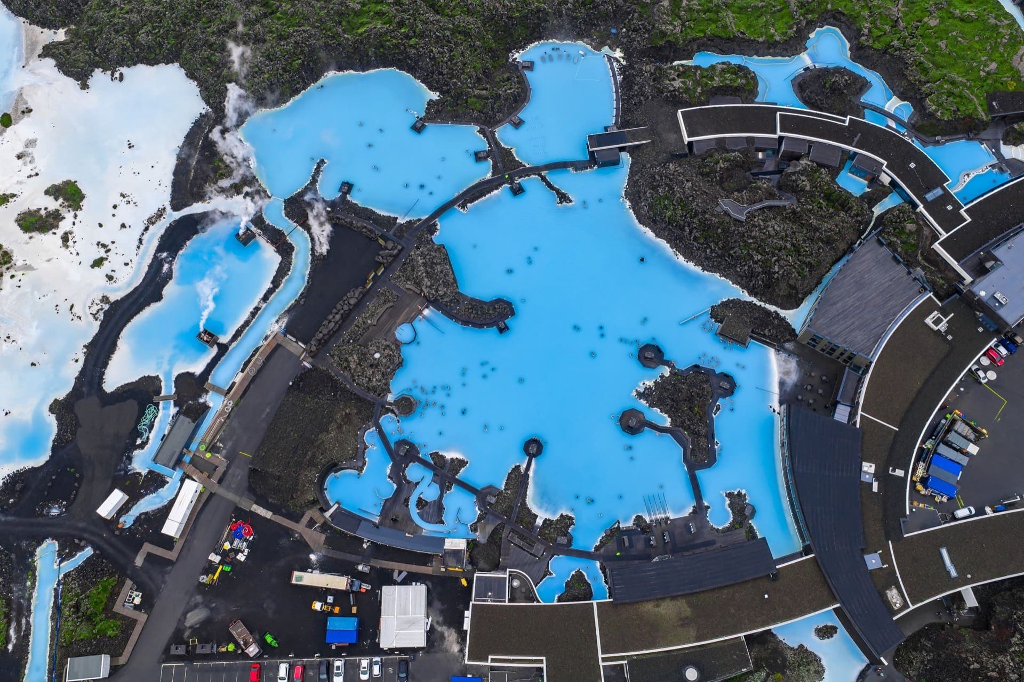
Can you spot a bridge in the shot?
Yes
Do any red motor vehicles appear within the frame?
Yes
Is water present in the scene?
Yes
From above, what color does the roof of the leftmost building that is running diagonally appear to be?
white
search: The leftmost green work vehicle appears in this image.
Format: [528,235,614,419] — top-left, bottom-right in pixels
[264,632,279,649]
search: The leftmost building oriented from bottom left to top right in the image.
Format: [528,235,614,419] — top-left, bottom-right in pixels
[96,489,127,518]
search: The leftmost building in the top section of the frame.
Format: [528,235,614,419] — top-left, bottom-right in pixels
[586,126,651,166]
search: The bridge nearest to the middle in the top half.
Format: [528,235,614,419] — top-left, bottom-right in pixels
[414,159,593,233]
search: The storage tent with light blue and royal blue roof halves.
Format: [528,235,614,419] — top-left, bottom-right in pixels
[326,618,360,646]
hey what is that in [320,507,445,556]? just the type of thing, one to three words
building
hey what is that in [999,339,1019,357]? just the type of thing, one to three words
car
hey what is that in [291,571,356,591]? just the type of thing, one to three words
trailer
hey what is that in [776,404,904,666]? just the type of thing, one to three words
building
